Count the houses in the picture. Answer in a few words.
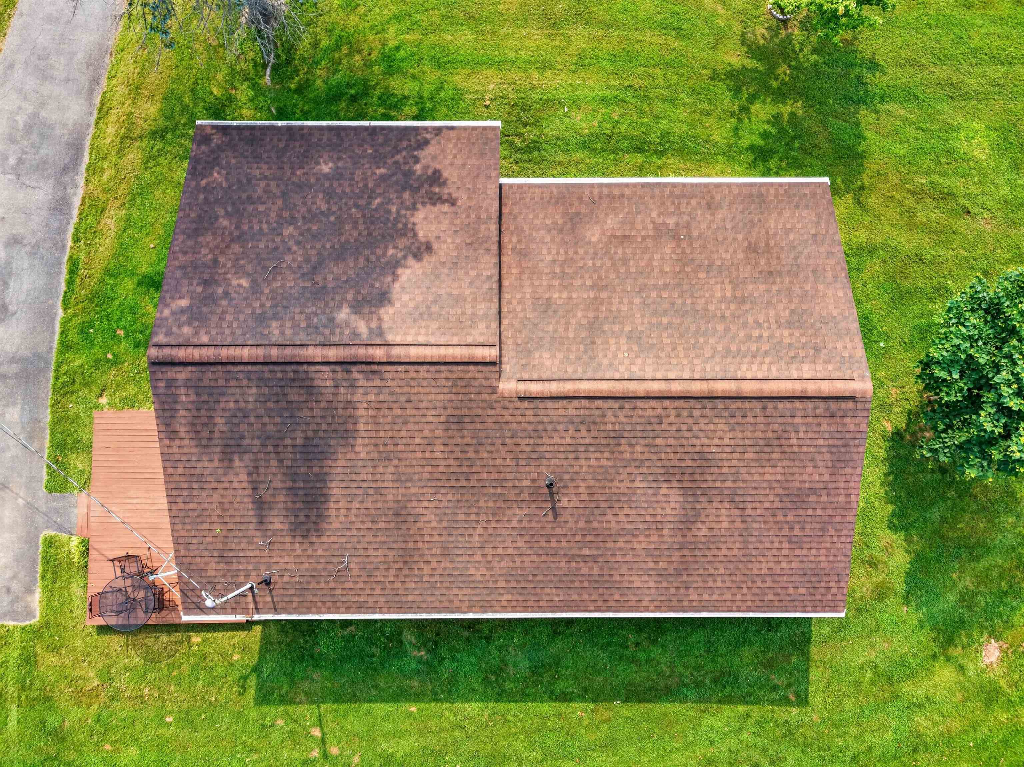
1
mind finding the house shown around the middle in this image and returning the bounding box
[145,120,874,619]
